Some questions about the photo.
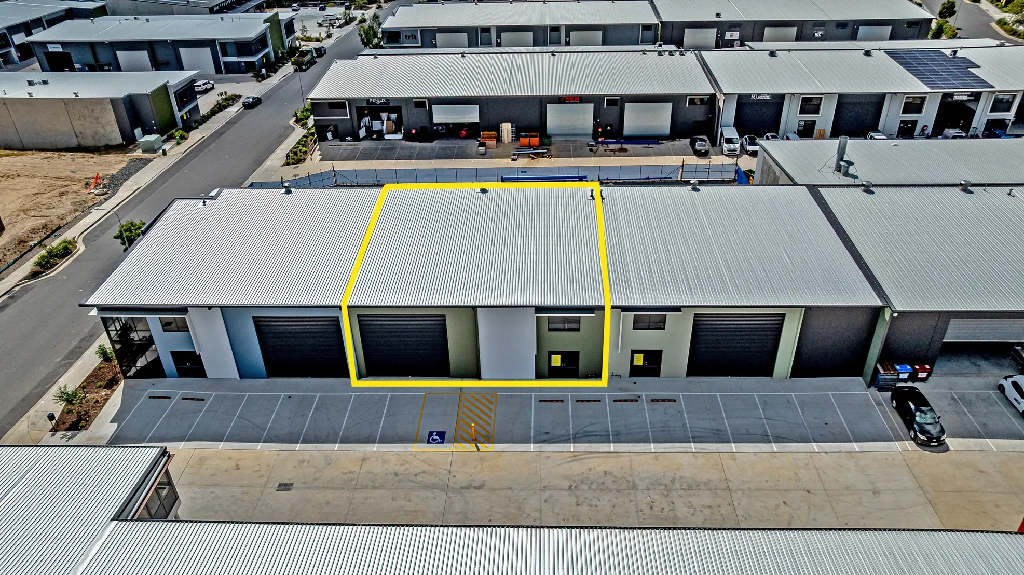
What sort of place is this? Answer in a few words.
industrial area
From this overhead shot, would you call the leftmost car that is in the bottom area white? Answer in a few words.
No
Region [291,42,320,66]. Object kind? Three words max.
truck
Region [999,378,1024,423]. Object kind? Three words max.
car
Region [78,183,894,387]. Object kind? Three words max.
warehouse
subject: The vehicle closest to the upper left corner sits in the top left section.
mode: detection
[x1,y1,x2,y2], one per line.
[195,80,219,93]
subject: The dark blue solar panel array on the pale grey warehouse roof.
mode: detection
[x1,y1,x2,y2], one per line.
[883,47,992,88]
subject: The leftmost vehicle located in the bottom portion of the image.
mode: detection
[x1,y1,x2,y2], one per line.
[890,386,949,444]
